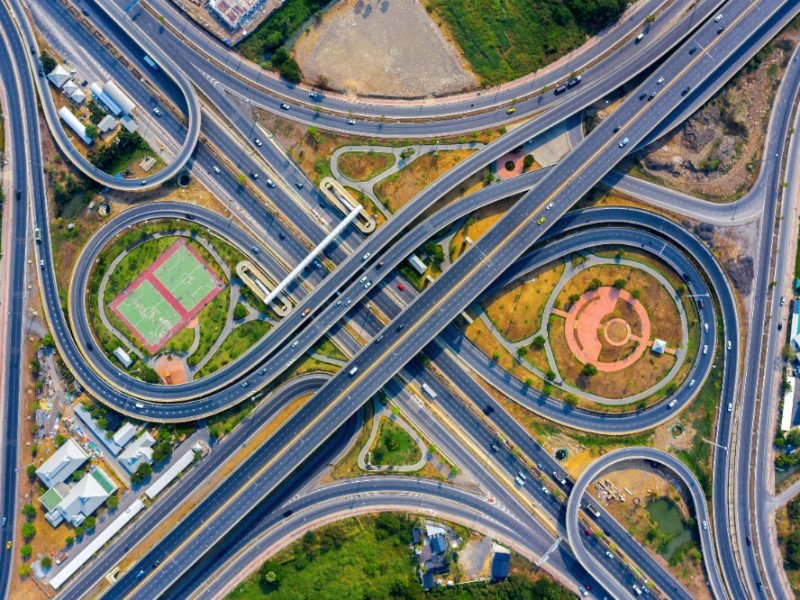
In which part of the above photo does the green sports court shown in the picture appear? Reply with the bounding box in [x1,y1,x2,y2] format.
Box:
[109,238,224,354]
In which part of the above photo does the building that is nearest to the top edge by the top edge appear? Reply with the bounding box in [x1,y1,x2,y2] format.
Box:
[205,0,272,36]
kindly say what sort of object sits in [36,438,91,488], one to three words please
building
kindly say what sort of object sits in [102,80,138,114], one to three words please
shed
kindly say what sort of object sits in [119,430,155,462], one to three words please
house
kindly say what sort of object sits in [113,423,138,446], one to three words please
house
